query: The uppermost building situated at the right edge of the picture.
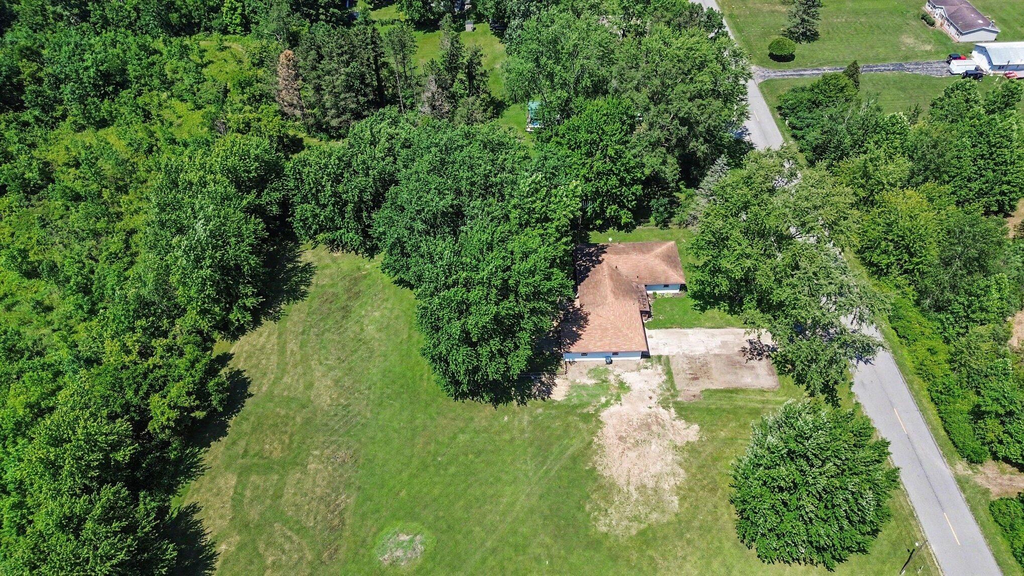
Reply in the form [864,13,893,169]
[912,0,1009,44]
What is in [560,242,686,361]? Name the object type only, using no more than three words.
house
